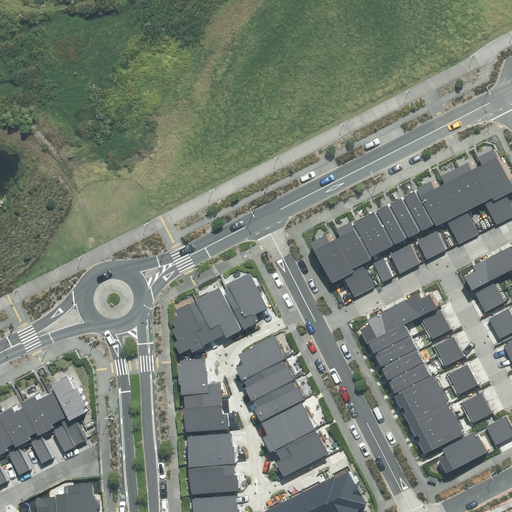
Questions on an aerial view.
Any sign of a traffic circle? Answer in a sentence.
Yes, the image includes a traffic circle.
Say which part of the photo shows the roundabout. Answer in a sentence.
The roundabout is located in the left region of the scene.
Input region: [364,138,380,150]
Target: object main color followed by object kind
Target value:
white vehicle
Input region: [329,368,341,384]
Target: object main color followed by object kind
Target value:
white vehicle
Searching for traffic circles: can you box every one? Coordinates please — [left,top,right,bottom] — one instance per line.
[39,257,174,356]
